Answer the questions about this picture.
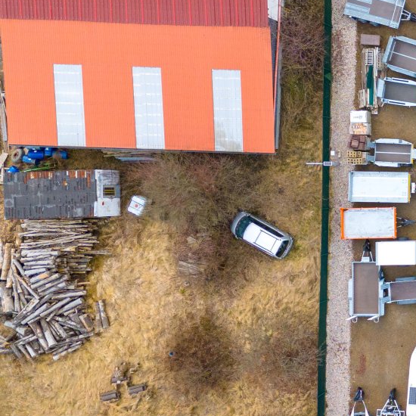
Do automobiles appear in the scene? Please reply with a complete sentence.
Yes, the photo shows an automobile.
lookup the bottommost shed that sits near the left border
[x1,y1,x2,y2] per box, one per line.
[4,169,121,220]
